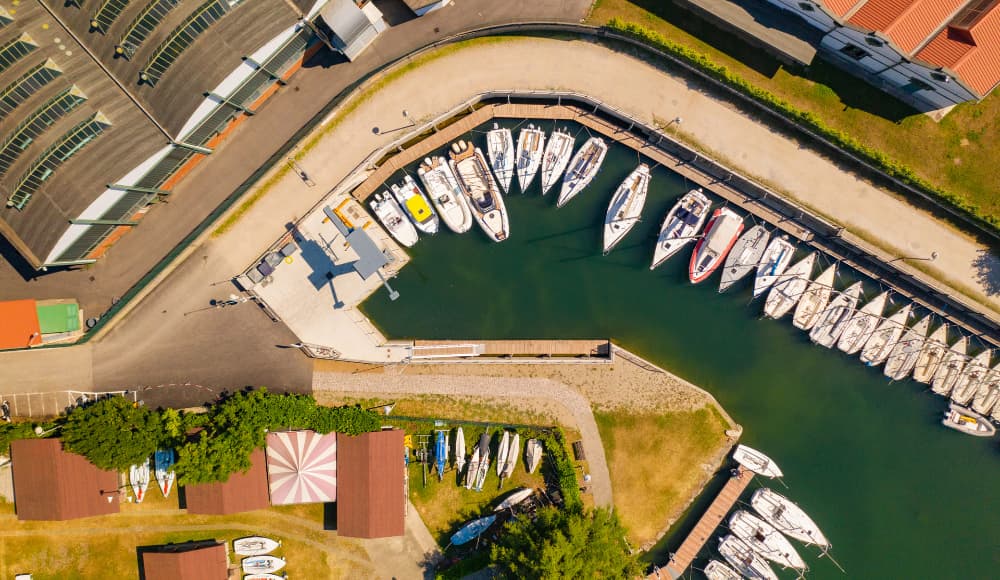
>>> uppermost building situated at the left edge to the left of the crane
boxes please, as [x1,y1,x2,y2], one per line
[0,0,342,272]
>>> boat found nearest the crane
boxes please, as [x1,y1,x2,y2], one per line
[369,187,414,245]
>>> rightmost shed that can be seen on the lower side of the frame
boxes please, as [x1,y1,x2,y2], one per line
[337,431,405,538]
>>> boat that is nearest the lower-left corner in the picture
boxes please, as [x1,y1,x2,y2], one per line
[130,461,150,505]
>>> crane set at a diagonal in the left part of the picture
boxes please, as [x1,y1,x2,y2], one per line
[322,207,400,300]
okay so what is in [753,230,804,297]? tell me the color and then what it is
white boat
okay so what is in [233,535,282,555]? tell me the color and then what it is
white boat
